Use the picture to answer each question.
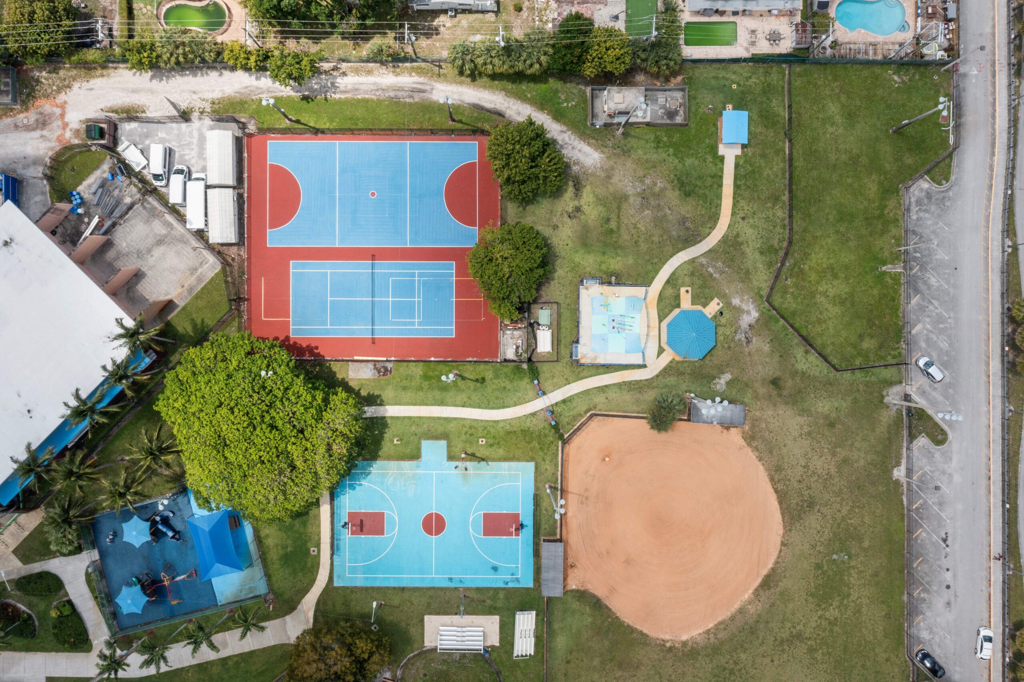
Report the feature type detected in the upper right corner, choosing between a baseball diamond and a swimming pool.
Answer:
swimming pool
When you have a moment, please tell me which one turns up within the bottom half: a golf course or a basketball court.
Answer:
basketball court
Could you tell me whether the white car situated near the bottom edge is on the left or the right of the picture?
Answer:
right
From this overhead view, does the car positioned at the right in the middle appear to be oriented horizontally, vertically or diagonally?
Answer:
diagonally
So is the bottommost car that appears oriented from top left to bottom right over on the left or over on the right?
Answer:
right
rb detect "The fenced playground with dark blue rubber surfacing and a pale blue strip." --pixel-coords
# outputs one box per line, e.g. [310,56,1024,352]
[92,486,269,630]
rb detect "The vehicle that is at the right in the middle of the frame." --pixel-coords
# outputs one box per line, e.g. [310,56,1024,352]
[916,356,945,384]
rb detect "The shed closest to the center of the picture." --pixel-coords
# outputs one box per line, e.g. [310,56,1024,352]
[537,330,552,352]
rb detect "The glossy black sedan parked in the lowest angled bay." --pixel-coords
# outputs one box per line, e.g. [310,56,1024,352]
[916,650,946,681]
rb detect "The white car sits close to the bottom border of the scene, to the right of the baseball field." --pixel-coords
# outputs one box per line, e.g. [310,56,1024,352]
[974,628,996,663]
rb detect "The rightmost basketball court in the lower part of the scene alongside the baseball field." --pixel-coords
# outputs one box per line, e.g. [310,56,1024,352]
[333,439,536,589]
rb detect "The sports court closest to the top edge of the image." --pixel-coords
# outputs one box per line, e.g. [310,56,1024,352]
[245,134,500,360]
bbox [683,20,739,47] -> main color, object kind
green swimming pool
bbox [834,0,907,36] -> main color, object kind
blue swimming pool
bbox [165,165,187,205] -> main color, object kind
white vehicle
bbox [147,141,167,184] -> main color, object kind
white vehicle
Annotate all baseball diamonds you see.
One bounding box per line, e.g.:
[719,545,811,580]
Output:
[564,415,783,641]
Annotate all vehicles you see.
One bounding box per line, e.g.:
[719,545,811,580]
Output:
[916,650,946,681]
[147,141,167,184]
[165,165,187,205]
[183,174,207,230]
[916,356,945,384]
[974,628,996,663]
